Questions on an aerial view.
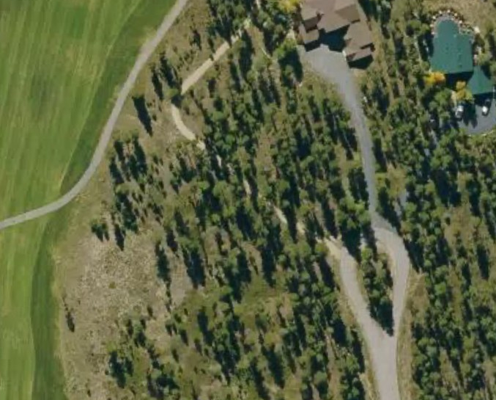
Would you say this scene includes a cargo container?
No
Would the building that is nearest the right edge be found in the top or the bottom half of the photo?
top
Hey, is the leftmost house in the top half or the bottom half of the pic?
top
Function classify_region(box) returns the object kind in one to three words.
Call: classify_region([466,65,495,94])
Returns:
building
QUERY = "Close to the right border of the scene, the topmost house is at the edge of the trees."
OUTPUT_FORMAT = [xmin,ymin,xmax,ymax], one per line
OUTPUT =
[432,16,474,73]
